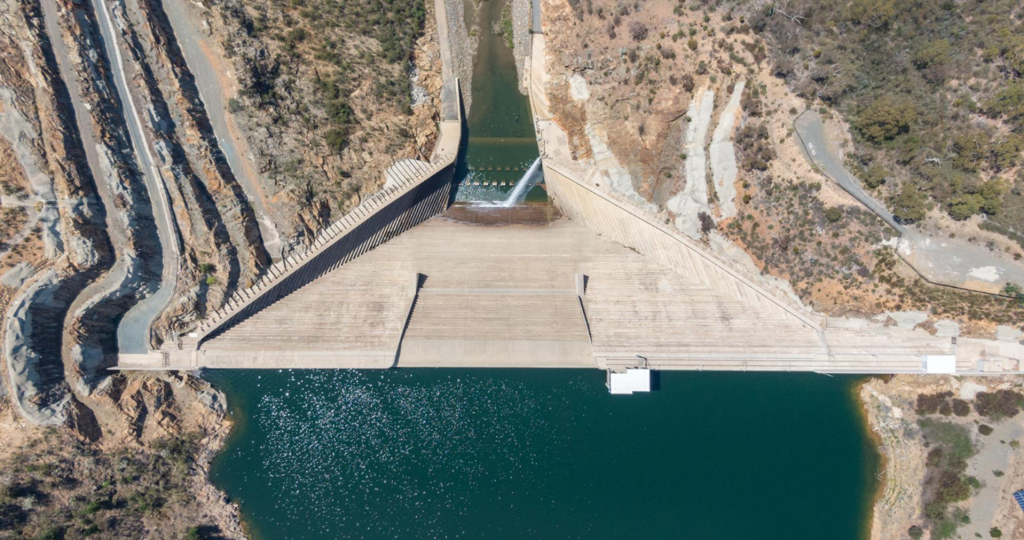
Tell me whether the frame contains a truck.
No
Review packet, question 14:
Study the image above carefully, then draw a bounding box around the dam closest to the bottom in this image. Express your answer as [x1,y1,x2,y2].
[114,155,1024,372]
